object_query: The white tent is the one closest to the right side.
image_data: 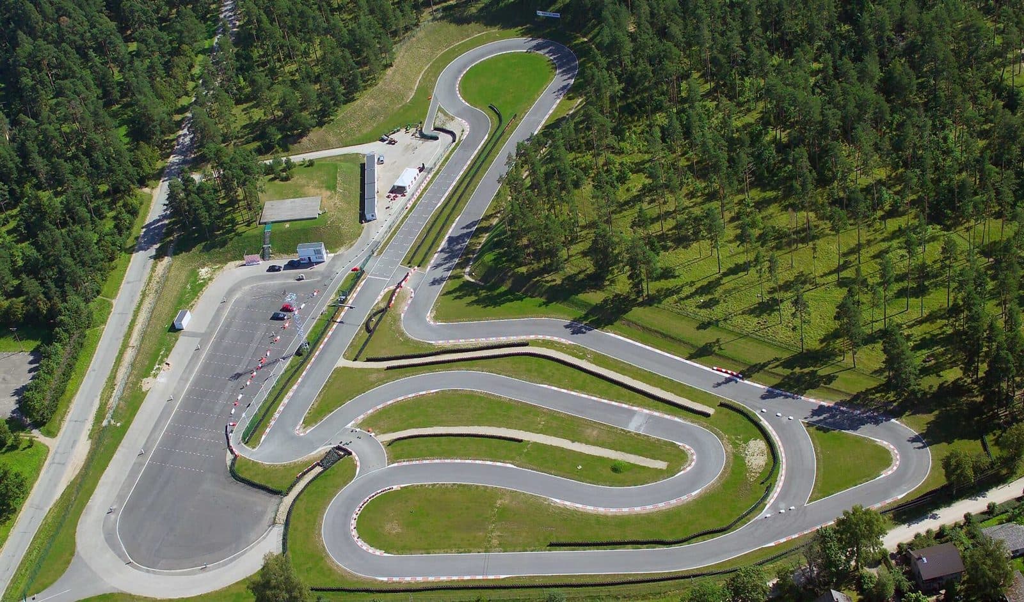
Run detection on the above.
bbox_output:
[395,166,419,191]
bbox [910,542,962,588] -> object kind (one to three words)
house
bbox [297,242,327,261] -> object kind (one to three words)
building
